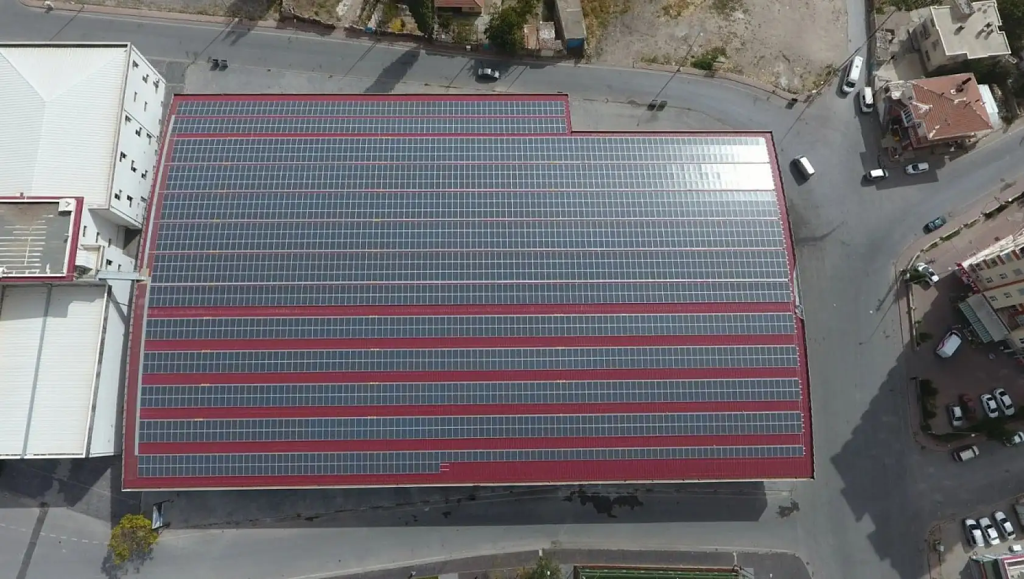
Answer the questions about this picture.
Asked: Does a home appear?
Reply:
Yes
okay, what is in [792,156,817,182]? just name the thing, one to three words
vehicle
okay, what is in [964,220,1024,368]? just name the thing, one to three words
building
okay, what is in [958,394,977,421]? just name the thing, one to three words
car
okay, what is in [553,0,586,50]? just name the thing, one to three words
shed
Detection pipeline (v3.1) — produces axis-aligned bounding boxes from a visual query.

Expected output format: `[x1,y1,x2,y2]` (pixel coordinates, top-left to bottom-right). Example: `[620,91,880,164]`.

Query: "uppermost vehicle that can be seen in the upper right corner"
[841,54,866,92]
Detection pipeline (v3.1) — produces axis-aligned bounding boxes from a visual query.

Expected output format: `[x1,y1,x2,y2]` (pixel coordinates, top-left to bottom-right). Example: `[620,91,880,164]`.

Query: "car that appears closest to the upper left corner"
[477,67,500,81]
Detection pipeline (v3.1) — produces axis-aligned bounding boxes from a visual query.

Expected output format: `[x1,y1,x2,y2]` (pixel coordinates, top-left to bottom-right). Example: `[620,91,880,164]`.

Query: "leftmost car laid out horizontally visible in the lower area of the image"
[950,445,980,461]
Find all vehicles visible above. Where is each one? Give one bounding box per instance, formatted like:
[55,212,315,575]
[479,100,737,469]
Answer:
[993,510,1015,540]
[917,262,941,286]
[979,394,999,418]
[865,170,887,182]
[946,402,964,427]
[977,517,999,545]
[792,156,817,182]
[950,445,980,461]
[920,215,948,234]
[860,87,874,113]
[935,331,961,359]
[841,54,866,92]
[1013,500,1024,528]
[903,163,930,177]
[477,67,500,81]
[993,389,1013,415]
[962,519,985,547]
[958,394,977,421]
